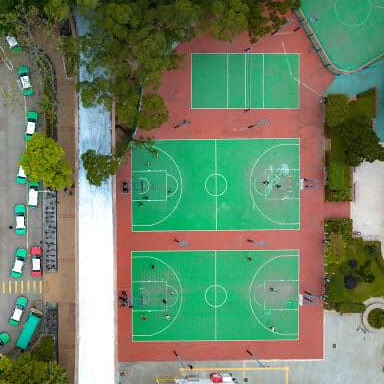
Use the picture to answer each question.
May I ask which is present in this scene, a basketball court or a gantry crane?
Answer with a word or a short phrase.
basketball court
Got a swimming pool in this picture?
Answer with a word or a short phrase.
No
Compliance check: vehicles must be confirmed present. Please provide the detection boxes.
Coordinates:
[14,204,26,234]
[30,246,42,275]
[0,27,23,55]
[15,305,45,350]
[18,66,33,96]
[9,296,27,327]
[27,180,40,209]
[11,248,26,278]
[25,111,38,141]
[16,155,28,184]
[0,331,10,347]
